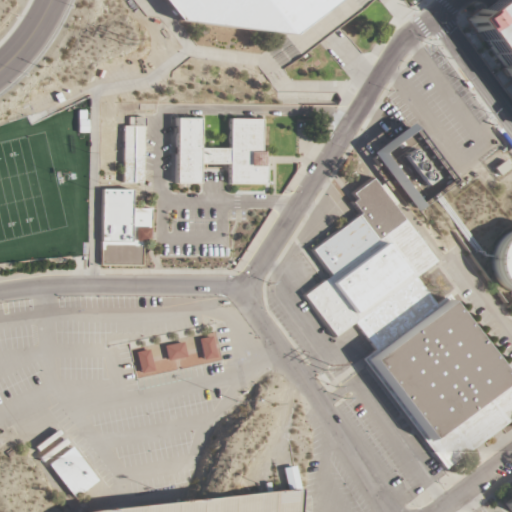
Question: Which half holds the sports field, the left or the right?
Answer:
left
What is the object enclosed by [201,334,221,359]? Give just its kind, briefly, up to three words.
building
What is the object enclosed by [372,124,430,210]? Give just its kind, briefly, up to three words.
building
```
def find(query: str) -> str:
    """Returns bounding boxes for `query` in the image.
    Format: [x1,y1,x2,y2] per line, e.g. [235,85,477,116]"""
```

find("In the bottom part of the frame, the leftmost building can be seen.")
[36,430,71,464]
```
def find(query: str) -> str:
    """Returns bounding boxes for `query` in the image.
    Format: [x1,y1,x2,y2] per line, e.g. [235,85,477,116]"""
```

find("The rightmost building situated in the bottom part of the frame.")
[302,179,512,470]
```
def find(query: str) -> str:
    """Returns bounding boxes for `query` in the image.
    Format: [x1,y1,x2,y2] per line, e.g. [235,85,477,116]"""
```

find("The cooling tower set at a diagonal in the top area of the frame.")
[404,150,443,186]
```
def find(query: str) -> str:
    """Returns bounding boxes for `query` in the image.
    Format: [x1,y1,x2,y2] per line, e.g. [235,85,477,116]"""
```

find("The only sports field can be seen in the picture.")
[0,96,91,262]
